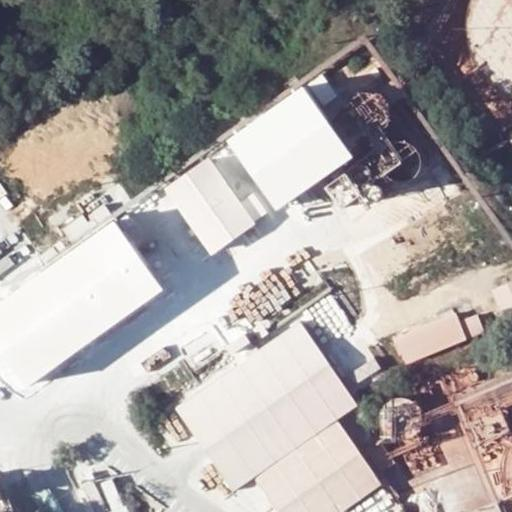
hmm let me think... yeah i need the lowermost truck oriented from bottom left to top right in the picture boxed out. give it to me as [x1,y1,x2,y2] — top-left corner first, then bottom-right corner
[140,342,178,372]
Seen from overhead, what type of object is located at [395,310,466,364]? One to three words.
shed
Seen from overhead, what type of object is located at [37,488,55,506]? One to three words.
work vehicle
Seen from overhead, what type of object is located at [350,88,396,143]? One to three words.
silo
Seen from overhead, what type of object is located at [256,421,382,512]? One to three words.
building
